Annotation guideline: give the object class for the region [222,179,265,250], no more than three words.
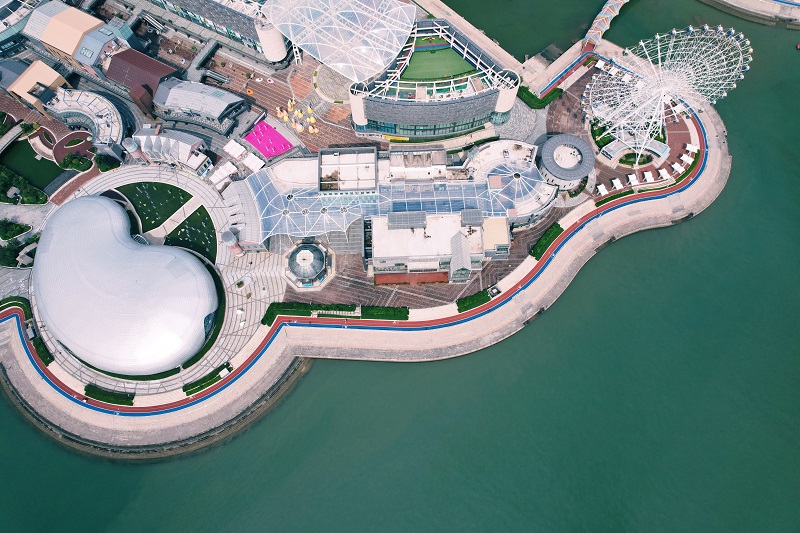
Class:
building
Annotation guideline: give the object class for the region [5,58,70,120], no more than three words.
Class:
building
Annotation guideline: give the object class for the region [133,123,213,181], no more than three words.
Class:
house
